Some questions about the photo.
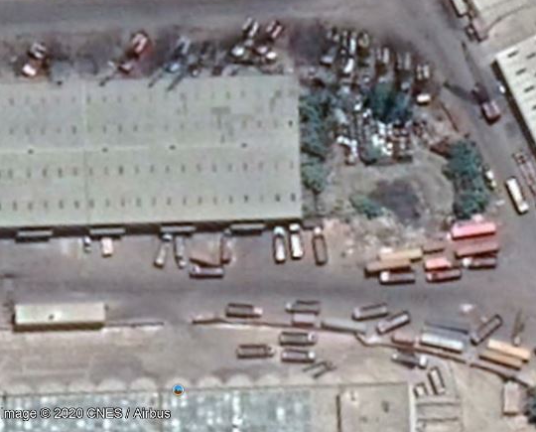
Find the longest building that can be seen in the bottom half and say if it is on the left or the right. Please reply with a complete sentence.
It is on the left.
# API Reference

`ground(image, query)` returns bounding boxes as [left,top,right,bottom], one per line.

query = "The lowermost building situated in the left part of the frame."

[14,302,103,325]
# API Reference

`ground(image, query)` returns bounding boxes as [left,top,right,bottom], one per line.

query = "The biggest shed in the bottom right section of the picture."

[502,382,519,413]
